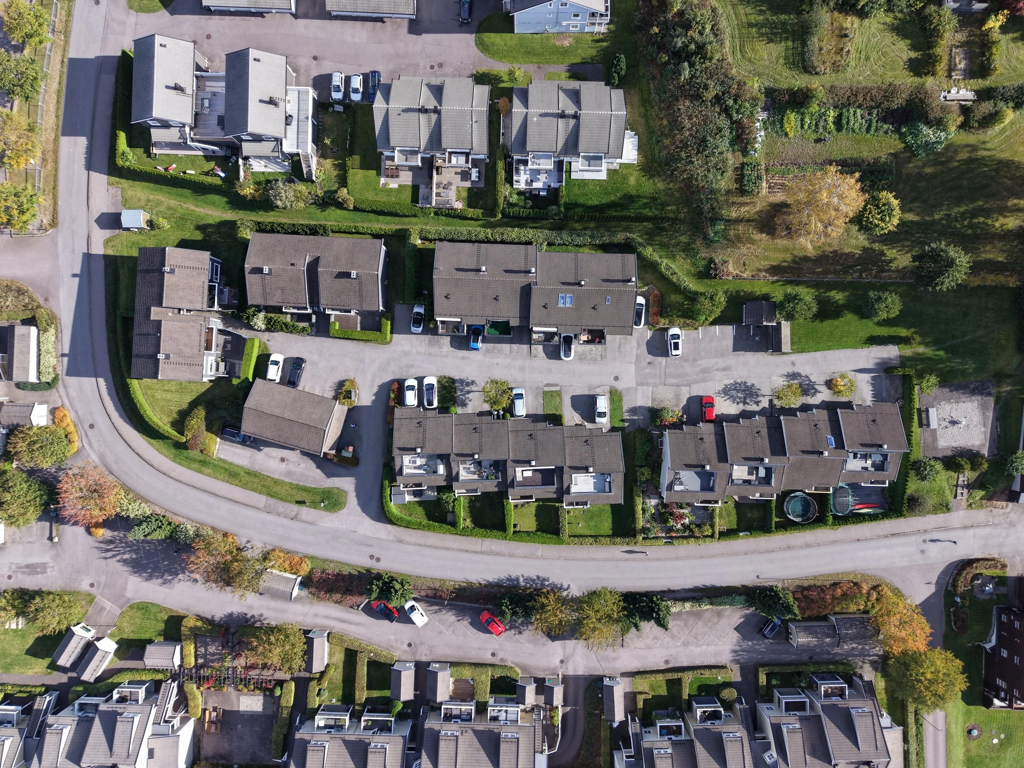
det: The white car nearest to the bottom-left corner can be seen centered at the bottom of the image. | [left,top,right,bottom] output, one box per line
[405,600,428,628]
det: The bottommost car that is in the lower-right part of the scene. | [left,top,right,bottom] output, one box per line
[759,614,783,641]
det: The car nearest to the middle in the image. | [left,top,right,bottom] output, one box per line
[512,388,525,417]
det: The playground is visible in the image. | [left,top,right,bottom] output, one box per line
[918,379,997,458]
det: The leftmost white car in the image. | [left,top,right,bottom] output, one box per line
[268,354,284,382]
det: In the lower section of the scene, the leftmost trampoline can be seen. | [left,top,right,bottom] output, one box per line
[785,494,817,524]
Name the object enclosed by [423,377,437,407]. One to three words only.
car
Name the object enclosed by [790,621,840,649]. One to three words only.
shed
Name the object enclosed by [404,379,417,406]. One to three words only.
vehicle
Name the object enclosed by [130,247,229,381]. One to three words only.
house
